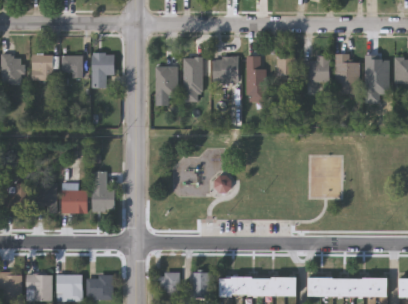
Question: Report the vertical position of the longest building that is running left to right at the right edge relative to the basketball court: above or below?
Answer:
below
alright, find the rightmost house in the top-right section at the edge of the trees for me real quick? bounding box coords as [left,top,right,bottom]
[396,58,408,84]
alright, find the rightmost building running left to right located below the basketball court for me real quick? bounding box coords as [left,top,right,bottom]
[308,278,388,298]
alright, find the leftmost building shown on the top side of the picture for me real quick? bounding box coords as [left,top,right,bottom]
[2,54,26,85]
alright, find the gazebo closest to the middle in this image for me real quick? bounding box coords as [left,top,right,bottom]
[215,176,232,194]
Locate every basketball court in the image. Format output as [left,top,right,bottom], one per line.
[309,156,344,200]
